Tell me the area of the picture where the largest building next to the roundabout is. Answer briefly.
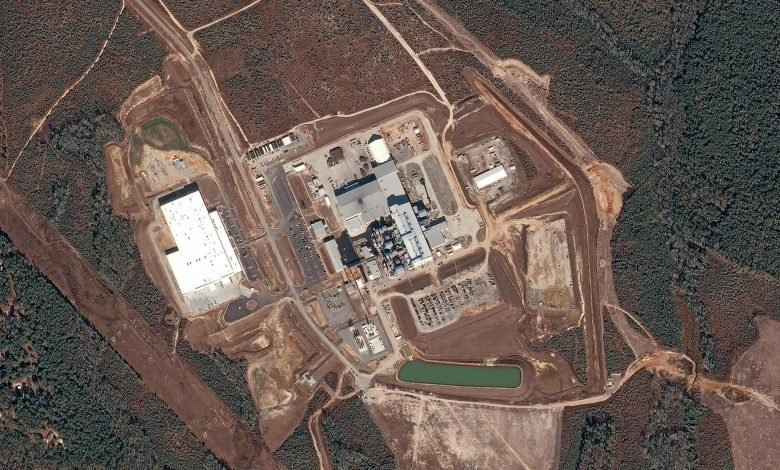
left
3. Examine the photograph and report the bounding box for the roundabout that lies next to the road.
[225,289,289,323]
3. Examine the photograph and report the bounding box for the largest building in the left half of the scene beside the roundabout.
[161,190,233,294]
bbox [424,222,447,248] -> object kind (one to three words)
shed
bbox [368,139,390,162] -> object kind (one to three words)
shed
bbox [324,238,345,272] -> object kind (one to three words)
building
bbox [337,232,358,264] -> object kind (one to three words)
building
